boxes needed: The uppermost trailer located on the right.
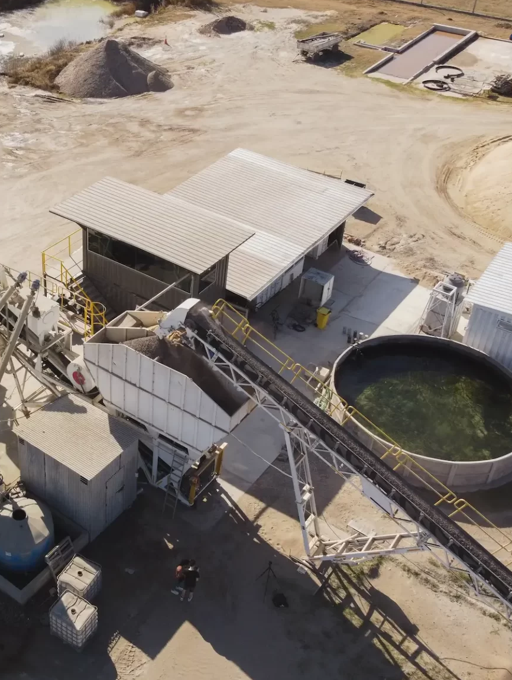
[295,28,348,62]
